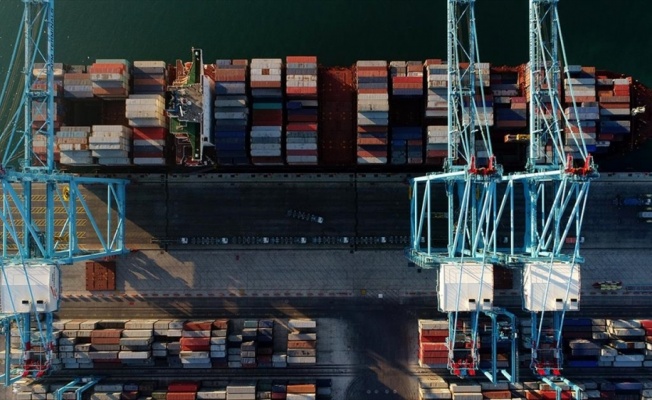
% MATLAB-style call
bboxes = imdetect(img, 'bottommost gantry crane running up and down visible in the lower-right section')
[478,299,518,385]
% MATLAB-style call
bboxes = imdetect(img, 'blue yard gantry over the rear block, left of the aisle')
[53,370,104,400]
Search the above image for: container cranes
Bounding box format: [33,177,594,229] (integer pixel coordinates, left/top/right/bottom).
[53,370,104,400]
[0,0,135,375]
[475,0,604,375]
[401,0,504,375]
[478,299,518,385]
[533,373,582,400]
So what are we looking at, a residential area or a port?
port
